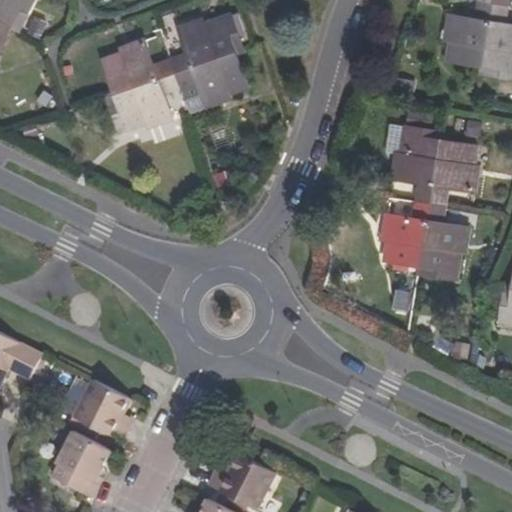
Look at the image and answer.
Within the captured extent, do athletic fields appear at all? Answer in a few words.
No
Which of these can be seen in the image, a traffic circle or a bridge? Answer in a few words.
traffic circle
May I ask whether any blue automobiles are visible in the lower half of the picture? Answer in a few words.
Yes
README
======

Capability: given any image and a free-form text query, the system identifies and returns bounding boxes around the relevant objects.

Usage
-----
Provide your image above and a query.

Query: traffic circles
[156,231,301,383]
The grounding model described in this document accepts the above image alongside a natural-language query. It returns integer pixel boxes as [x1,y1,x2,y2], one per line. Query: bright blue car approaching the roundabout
[343,354,366,374]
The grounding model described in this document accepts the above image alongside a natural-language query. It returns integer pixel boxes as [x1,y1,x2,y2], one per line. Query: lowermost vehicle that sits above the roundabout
[290,182,306,204]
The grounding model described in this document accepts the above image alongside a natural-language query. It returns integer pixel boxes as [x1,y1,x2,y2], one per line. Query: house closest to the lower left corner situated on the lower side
[51,430,111,498]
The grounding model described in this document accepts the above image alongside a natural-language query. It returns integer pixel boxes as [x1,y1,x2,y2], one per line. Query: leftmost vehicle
[96,480,112,502]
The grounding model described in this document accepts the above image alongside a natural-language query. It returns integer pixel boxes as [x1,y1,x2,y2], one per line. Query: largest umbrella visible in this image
[38,444,54,460]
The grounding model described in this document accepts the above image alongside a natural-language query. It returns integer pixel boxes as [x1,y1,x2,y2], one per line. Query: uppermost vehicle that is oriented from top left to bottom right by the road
[280,307,302,326]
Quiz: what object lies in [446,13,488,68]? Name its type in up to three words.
house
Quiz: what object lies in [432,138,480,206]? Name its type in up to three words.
house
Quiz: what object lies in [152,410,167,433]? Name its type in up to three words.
car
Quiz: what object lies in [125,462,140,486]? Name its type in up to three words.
car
